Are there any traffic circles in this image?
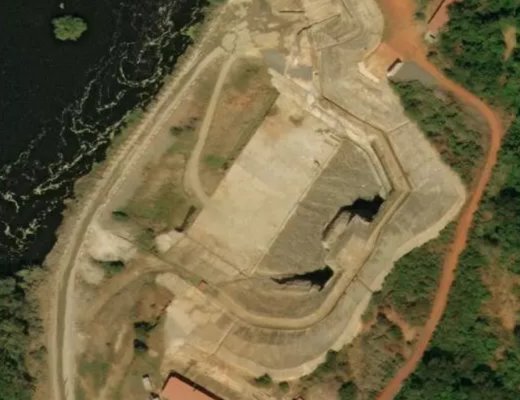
No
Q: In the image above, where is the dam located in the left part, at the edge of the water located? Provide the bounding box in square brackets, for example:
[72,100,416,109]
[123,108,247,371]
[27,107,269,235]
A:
[28,0,254,400]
